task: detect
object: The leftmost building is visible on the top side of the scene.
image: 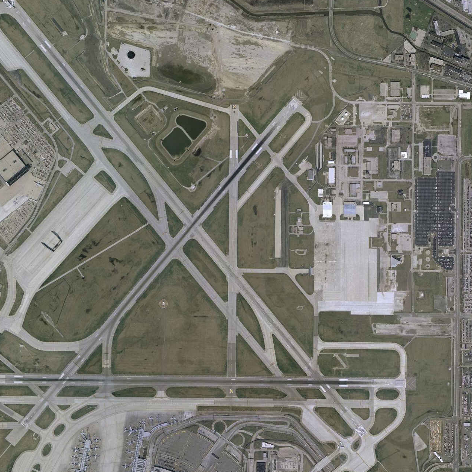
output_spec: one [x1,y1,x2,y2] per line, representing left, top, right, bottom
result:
[0,148,31,185]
